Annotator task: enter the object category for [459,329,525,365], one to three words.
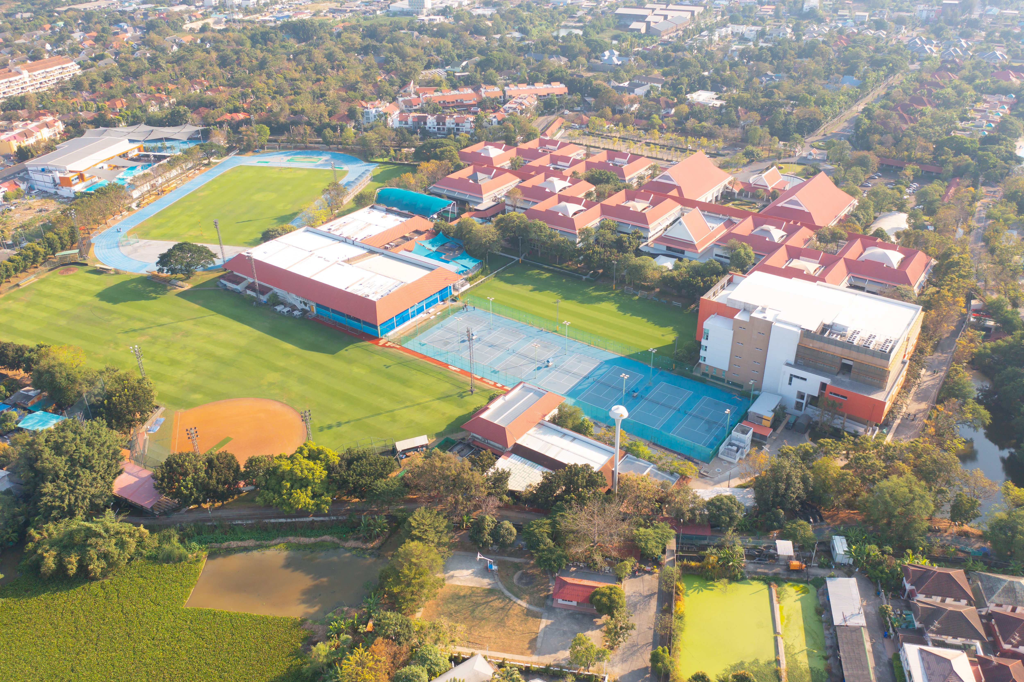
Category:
tennis court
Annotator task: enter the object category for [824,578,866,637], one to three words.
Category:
shed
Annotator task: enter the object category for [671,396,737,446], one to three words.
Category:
tennis court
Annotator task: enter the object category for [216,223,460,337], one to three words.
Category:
building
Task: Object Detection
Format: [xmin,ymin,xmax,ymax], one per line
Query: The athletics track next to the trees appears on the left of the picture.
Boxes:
[89,151,367,274]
